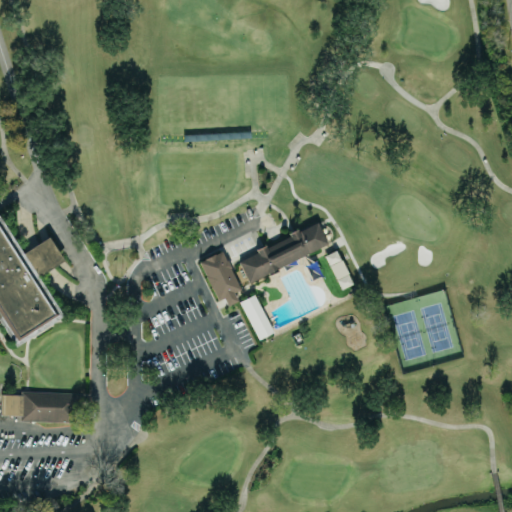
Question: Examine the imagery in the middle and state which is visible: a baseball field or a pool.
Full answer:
The feature located in the middle is a pool.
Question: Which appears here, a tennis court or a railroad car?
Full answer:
Of the two, only a tennis court appears.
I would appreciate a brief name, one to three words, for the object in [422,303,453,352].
tennis court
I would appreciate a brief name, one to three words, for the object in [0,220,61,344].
building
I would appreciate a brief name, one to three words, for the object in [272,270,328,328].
swimming pool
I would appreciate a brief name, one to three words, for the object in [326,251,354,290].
building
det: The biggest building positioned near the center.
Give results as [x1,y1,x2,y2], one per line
[240,224,328,283]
